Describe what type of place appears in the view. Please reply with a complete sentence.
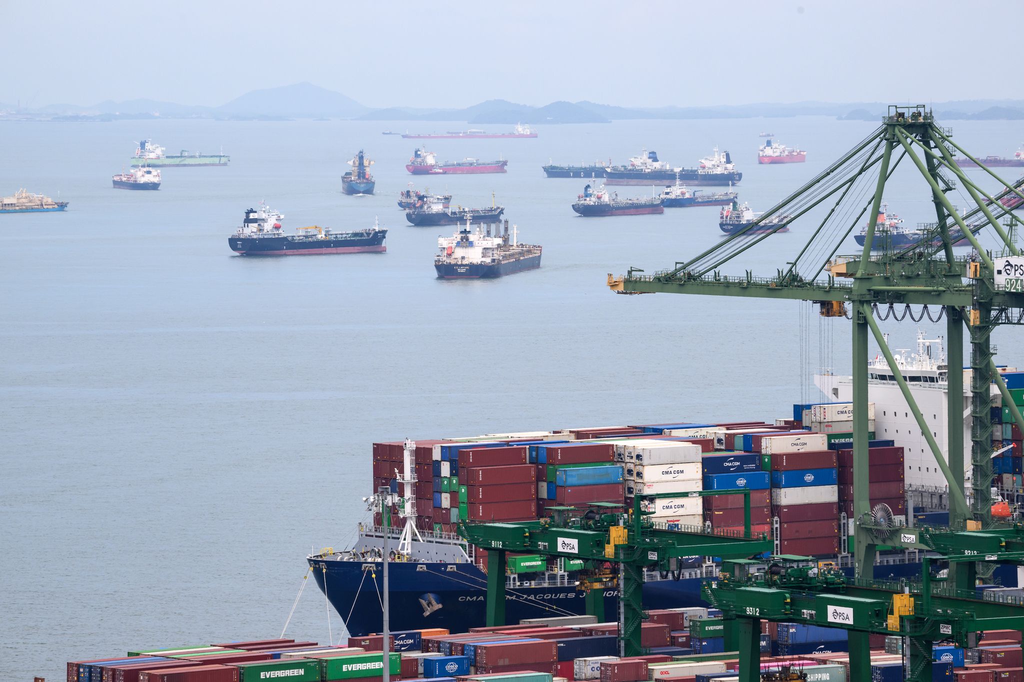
This looks like a port.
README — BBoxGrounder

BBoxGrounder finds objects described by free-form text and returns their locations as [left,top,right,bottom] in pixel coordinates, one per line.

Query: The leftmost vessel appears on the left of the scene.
[0,187,67,213]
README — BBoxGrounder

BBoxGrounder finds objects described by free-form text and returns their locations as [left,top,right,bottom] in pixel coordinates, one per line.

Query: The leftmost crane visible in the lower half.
[449,487,784,649]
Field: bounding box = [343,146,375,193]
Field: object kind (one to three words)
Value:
ship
